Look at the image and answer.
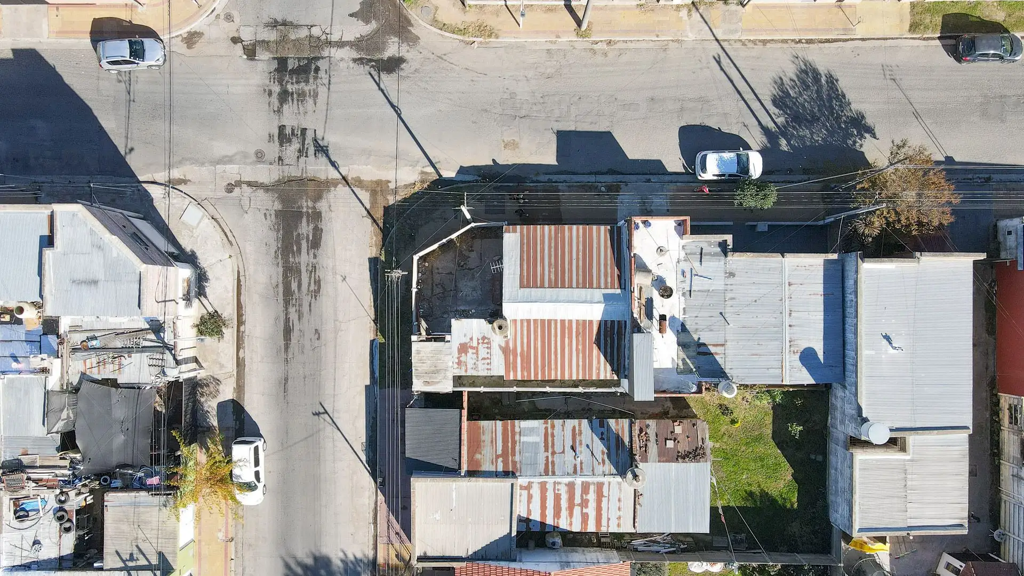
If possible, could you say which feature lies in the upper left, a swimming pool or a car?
car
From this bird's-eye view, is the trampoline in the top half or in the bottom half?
bottom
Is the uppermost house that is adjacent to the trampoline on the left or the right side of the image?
right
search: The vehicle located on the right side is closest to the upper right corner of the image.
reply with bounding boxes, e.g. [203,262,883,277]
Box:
[957,30,1024,68]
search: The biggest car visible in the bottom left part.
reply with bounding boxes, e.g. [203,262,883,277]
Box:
[230,432,270,503]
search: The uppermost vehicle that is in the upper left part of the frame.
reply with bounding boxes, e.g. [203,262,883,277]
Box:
[89,34,163,72]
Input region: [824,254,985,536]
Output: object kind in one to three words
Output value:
house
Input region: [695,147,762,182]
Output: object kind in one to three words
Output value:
car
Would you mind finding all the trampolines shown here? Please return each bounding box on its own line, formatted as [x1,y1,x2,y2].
[852,551,897,576]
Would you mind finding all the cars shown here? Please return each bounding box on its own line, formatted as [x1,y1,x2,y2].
[957,30,1024,68]
[89,34,163,72]
[695,147,762,182]
[230,432,270,503]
